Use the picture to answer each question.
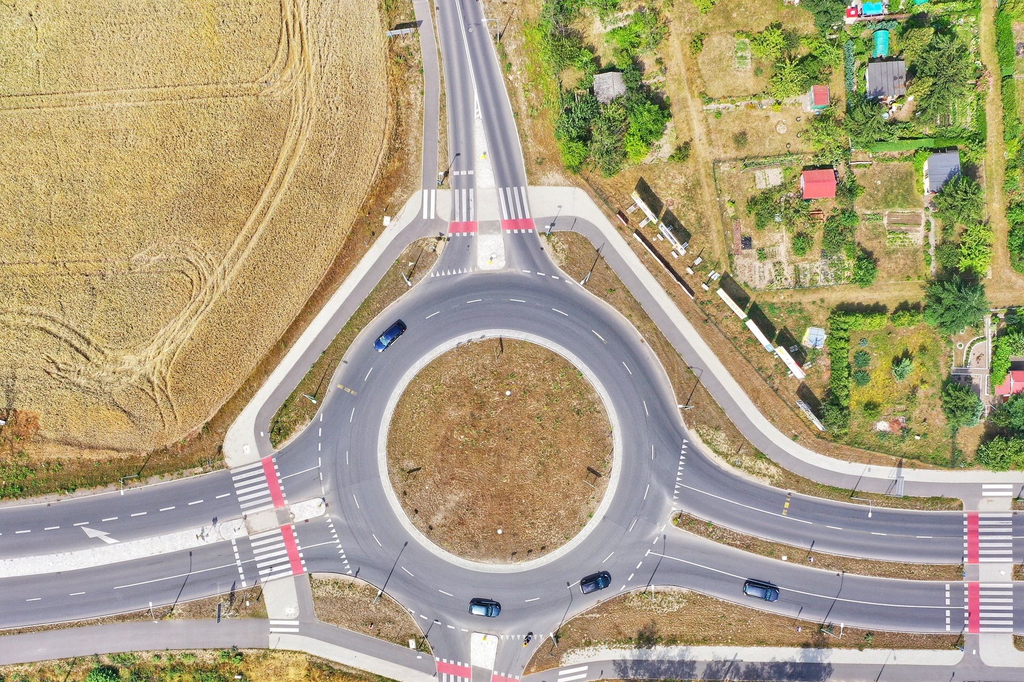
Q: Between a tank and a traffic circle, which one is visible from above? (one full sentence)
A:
This aerial view contains a traffic circle.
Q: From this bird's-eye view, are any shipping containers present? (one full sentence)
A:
No, I find no shipping container anywhere in the image.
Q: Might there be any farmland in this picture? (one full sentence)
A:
Yes, there is farmland in the image.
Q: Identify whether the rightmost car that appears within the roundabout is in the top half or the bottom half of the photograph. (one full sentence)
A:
The rightmost car that appears within the roundabout is in the bottom half of the image.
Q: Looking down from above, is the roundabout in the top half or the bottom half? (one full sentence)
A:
Seen from above, the roundabout lies in the bottom half of the view.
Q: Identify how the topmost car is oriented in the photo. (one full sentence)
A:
From this overhead view, the topmost car appears to run on a diagonal.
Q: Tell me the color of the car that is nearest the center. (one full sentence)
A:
The car that is nearest the center looks blue in the image.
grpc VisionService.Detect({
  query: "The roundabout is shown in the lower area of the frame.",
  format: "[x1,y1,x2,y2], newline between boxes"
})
[319,265,715,640]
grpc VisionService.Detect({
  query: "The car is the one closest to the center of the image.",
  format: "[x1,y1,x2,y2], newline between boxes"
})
[373,322,405,352]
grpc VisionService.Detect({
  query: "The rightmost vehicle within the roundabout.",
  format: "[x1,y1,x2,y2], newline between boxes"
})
[579,574,611,595]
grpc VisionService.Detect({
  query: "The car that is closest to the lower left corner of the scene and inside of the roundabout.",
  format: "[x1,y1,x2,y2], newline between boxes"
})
[469,602,500,618]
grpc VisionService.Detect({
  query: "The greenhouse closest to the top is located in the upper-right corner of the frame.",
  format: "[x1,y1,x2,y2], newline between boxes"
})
[871,28,888,60]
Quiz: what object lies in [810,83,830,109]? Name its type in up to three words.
shed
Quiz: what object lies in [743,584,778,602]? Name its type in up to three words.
car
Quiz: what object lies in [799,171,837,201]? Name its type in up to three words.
shed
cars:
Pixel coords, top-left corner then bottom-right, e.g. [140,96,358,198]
[743,584,778,602]
[579,574,611,595]
[469,602,500,618]
[373,322,405,352]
